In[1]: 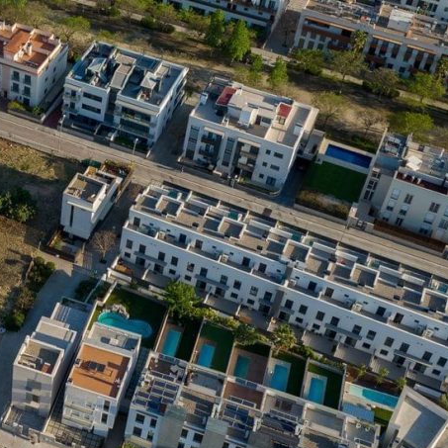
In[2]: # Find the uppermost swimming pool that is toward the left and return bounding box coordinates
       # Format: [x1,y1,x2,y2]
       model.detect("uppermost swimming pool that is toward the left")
[96,311,156,339]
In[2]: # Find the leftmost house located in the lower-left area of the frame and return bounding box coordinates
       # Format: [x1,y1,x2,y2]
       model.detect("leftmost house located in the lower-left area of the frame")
[12,317,89,416]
